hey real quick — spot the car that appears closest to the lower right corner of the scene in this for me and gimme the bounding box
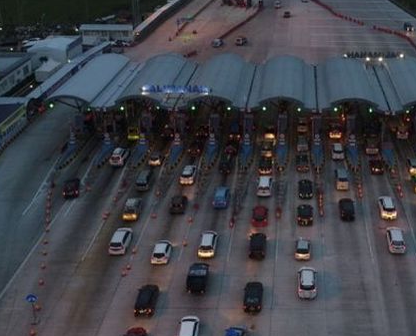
[386,228,408,255]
